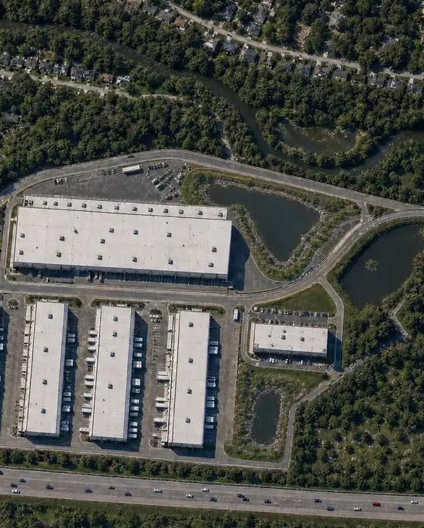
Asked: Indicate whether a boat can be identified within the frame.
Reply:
No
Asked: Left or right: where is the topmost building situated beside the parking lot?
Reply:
left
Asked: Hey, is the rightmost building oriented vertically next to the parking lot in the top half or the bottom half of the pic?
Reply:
bottom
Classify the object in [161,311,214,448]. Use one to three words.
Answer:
building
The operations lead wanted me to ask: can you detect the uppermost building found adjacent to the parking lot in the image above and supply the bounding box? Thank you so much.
[13,196,232,281]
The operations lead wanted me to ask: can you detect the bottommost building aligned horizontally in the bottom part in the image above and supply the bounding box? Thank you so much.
[251,324,328,357]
